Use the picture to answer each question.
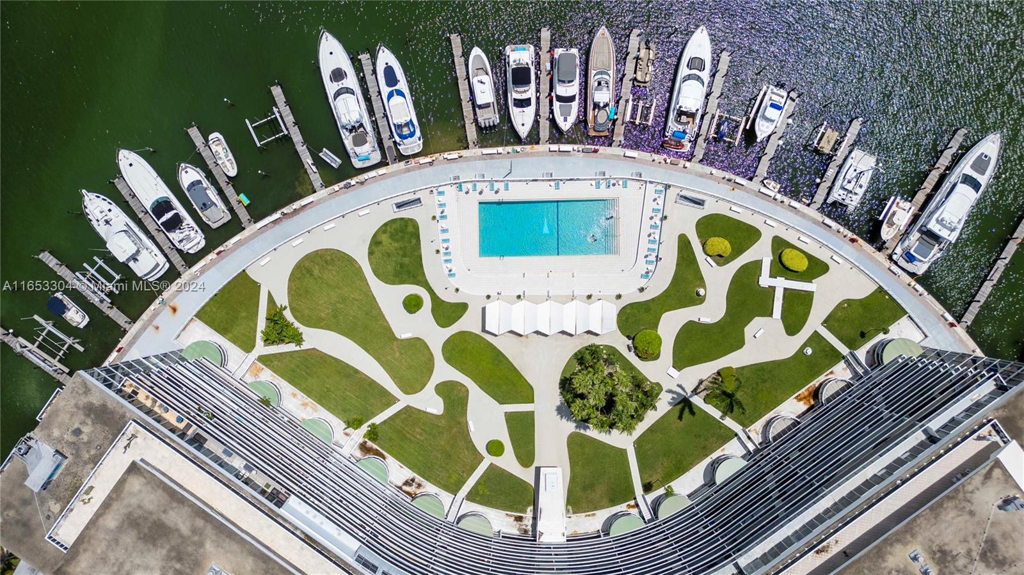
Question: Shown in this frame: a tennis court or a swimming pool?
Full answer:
The image shows a swimming pool.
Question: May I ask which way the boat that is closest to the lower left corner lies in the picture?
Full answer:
The boat that is closest to the lower left corner is laid out on a diagonal.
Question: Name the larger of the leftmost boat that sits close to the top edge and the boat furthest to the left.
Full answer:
The leftmost boat that sits close to the top edge is bigger than the boat furthest to the left.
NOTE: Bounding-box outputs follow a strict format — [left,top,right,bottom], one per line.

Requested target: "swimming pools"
[433,180,666,297]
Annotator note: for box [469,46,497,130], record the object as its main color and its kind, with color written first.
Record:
white boat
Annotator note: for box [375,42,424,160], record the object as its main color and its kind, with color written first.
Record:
white boat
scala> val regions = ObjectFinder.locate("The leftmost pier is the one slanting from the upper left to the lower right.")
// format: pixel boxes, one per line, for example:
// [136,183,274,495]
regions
[0,322,75,385]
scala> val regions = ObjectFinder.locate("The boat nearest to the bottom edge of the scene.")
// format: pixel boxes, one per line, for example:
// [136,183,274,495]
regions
[47,293,92,329]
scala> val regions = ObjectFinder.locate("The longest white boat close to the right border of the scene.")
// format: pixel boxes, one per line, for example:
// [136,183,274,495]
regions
[888,132,1005,276]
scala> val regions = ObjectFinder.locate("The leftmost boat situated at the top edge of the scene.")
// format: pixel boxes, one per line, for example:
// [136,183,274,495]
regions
[317,28,379,173]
